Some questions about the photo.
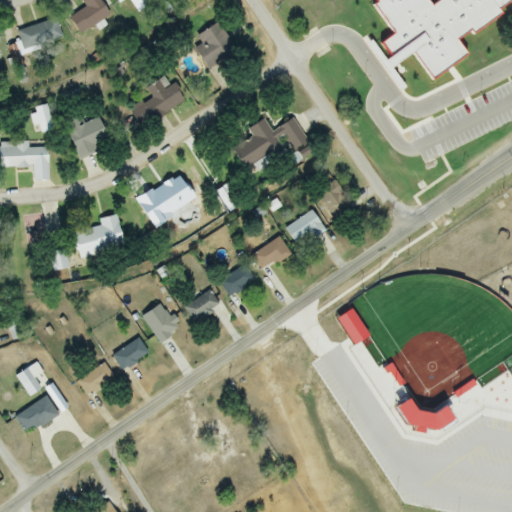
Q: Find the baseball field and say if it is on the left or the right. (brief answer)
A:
right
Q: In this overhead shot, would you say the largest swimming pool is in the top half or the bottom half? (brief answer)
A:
top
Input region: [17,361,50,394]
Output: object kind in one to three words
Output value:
building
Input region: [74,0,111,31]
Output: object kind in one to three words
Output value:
house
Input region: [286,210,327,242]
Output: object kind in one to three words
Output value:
house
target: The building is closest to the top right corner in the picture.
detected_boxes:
[377,0,512,80]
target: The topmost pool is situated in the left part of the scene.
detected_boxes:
[180,51,203,76]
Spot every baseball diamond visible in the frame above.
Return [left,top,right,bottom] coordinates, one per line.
[338,274,512,402]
